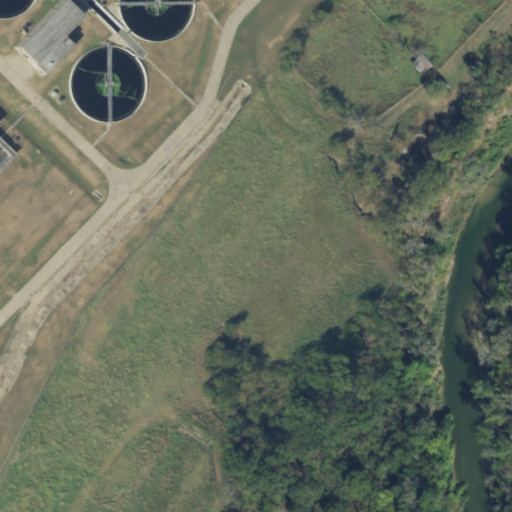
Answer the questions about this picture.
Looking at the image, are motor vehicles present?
No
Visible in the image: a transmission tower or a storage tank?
storage tank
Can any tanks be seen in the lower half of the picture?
No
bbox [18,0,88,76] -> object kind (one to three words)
building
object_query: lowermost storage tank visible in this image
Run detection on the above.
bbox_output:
[68,42,148,125]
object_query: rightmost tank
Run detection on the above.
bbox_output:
[116,0,198,43]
